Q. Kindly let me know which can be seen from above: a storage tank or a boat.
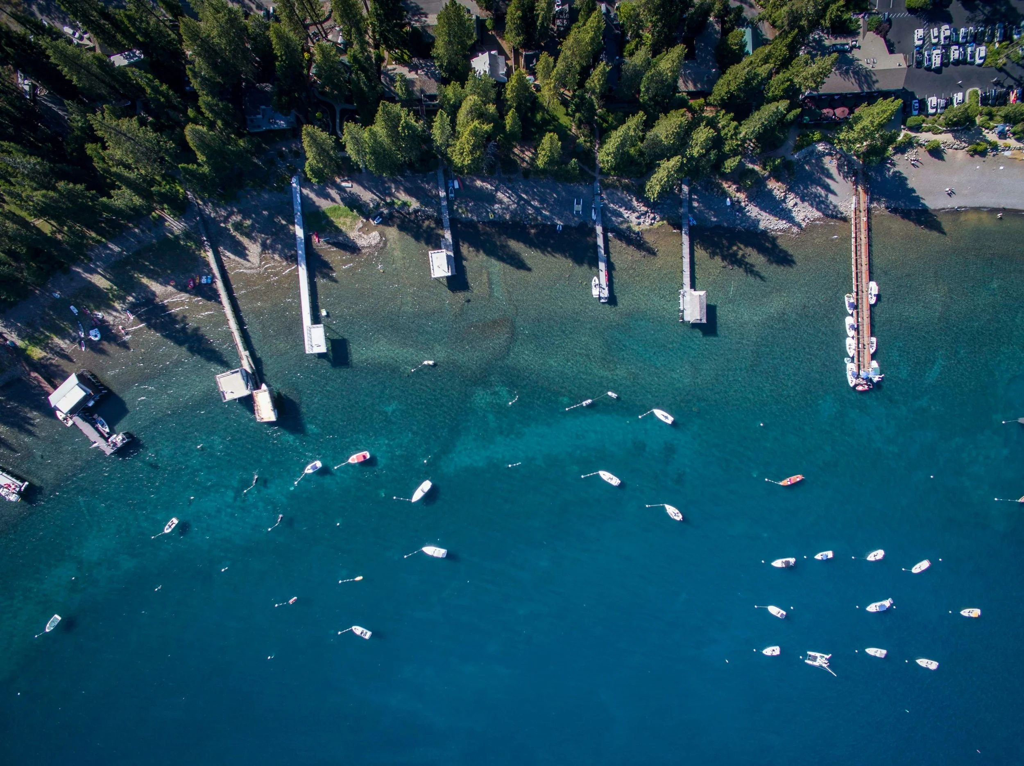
boat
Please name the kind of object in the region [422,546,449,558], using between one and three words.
boat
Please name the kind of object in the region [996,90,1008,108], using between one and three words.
vehicle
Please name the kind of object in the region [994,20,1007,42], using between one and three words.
vehicle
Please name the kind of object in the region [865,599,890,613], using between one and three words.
boat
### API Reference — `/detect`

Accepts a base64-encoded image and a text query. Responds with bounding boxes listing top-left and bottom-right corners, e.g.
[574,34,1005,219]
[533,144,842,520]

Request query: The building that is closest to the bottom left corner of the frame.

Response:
[41,369,104,419]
